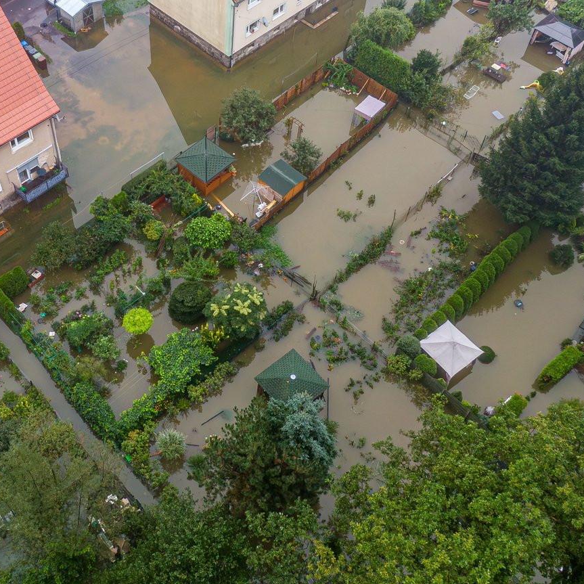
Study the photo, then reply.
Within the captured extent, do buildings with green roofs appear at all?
Yes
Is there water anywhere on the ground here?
Yes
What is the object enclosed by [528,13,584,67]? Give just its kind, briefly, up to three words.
gazebo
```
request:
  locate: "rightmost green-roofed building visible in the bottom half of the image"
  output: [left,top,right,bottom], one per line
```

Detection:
[254,348,329,405]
